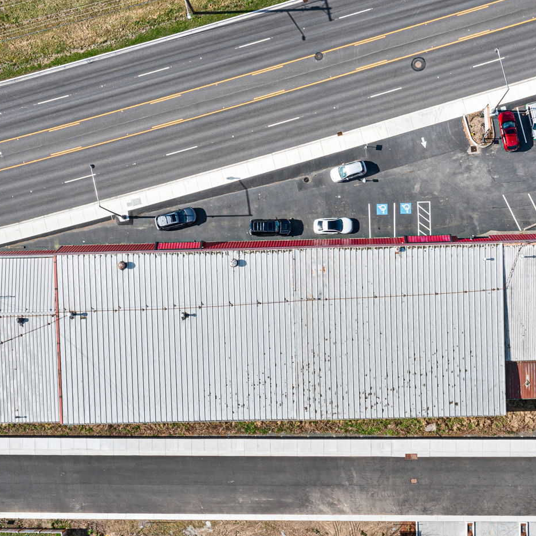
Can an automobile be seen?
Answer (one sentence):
Yes, this view includes an automobile.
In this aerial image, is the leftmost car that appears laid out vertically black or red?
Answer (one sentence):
From above, the leftmost car that appears laid out vertically appears red.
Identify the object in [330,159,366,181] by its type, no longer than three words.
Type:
car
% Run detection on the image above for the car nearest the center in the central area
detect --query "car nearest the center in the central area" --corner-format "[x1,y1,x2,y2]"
[249,218,290,236]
